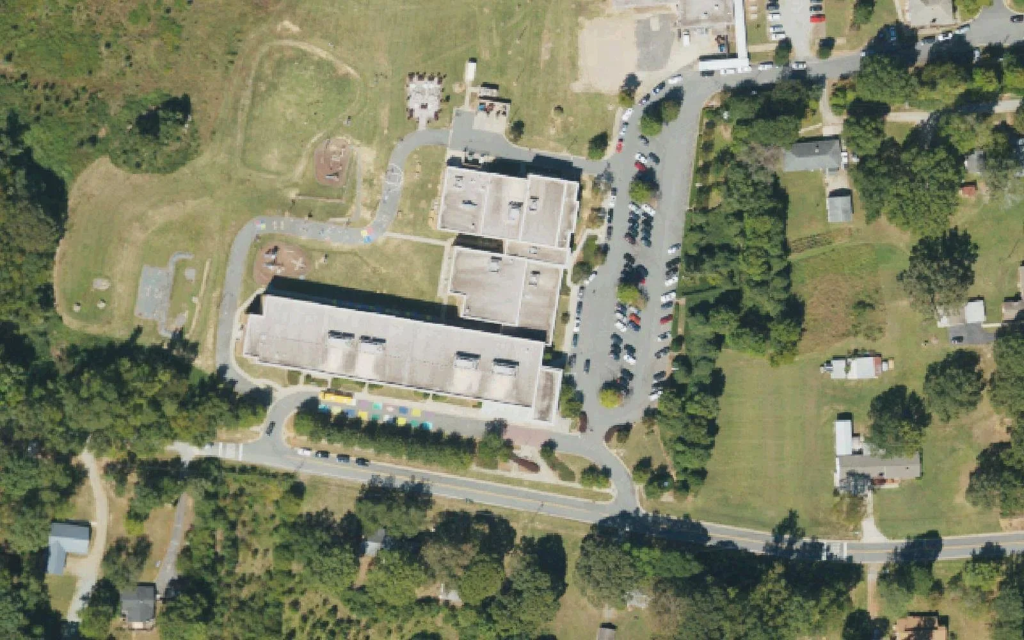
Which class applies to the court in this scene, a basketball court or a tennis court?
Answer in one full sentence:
The court can be classified as a basketball court.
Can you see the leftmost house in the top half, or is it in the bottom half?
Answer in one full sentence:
Seen from above, the leftmost house lies in the bottom half of the view.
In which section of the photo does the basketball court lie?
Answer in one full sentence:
The basketball court sits in the left section of the image.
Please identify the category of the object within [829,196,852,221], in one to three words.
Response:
shed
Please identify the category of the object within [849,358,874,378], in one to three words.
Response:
shed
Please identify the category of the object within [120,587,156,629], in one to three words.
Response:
house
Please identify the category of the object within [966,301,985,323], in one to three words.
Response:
building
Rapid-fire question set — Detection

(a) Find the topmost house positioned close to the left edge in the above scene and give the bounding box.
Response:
[48,522,96,574]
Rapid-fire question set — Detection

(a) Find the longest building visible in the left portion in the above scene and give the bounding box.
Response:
[243,295,563,425]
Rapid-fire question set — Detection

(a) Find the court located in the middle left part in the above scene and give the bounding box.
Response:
[135,252,194,337]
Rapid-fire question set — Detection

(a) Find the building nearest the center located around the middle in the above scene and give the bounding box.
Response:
[447,240,567,345]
